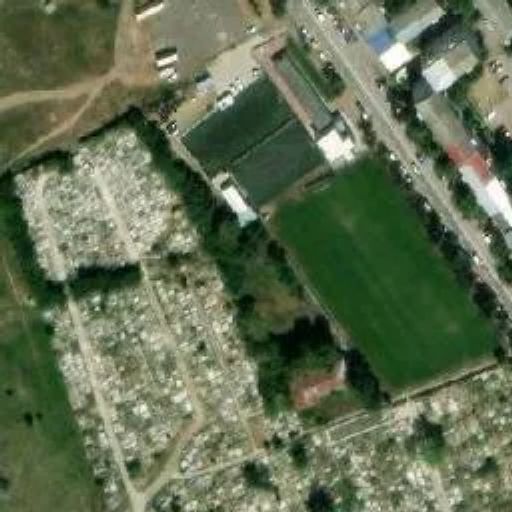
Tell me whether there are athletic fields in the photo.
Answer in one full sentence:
Yes, I can see an athletic field in this picture.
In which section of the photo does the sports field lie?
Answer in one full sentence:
The sports field is located in the right region of the scene.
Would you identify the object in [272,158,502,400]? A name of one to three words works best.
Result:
sports field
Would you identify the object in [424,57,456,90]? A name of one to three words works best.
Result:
building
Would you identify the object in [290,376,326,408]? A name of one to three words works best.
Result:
house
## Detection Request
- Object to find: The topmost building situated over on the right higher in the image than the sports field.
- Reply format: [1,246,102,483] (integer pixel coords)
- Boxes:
[390,0,446,40]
